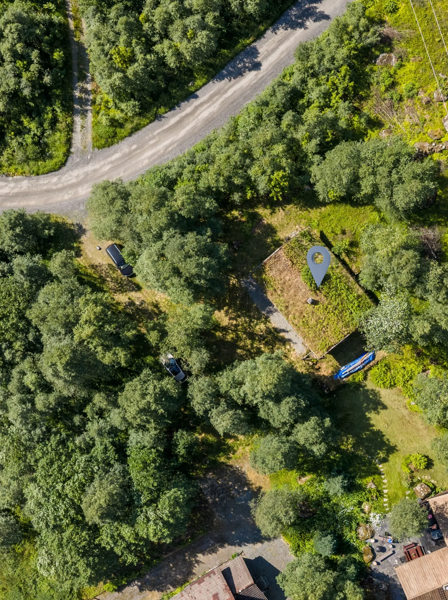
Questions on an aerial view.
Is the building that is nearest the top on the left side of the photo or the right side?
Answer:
right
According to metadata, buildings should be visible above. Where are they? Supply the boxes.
[250,226,367,360]
[171,553,268,600]
[395,493,448,600]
